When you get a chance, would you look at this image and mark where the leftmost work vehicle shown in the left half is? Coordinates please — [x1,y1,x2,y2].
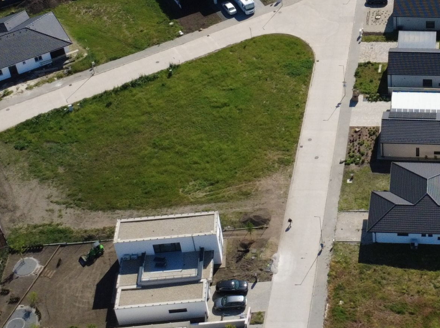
[76,241,102,267]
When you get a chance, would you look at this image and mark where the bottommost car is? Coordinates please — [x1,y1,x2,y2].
[212,293,246,310]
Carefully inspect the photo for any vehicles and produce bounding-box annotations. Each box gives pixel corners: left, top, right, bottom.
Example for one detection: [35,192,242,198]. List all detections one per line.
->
[220,0,238,14]
[212,293,246,310]
[237,0,254,12]
[213,276,249,293]
[76,241,102,267]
